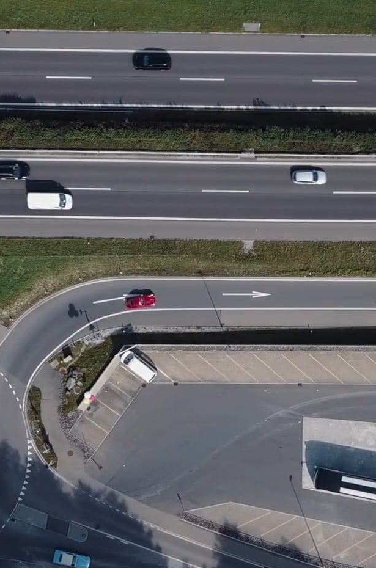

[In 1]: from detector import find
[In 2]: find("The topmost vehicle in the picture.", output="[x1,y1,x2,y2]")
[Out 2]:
[134,52,171,70]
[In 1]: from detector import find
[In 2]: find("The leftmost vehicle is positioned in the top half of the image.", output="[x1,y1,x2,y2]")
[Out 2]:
[0,163,30,180]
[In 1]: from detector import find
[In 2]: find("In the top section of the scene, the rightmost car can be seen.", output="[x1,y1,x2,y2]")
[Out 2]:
[292,168,327,184]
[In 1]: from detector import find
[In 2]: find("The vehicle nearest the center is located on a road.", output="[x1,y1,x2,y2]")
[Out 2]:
[125,293,157,308]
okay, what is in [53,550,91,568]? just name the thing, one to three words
car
